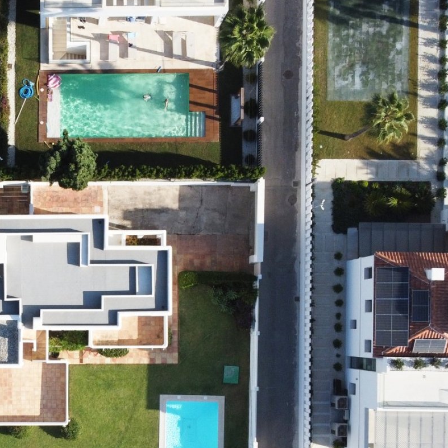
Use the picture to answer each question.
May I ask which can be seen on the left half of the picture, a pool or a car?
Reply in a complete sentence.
It is a pool that can be seen on the left half of the picture.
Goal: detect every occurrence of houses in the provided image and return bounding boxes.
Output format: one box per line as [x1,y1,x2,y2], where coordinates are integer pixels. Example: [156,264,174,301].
[41,0,230,26]
[336,223,448,448]
[0,214,172,425]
